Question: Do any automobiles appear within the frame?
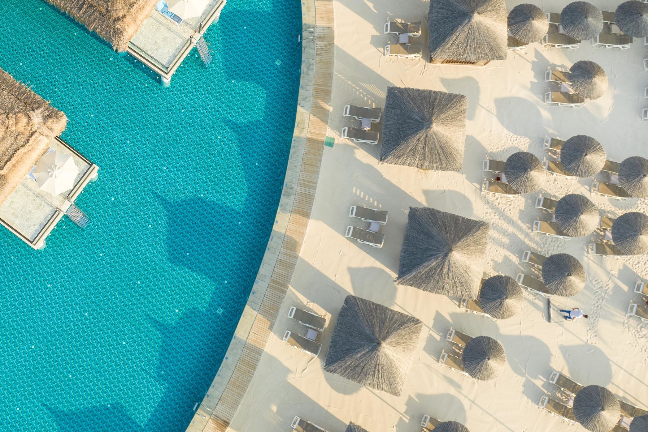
No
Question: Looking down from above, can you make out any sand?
Yes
